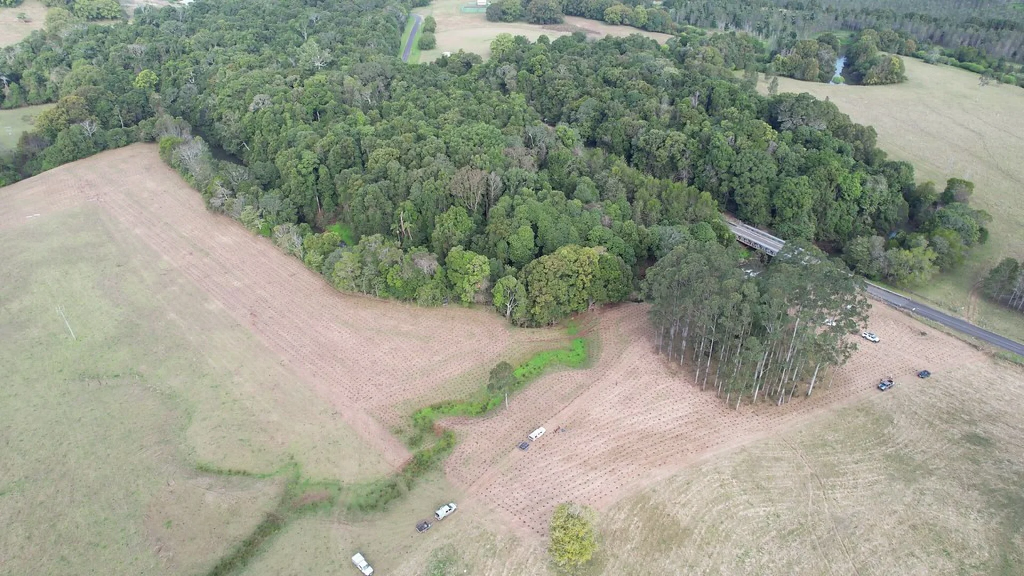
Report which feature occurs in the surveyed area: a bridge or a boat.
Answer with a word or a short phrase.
bridge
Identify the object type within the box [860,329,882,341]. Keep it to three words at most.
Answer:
vehicle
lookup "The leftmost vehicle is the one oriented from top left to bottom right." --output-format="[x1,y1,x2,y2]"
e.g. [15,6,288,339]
[349,547,373,575]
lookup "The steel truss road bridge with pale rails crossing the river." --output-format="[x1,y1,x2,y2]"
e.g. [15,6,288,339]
[728,217,864,285]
